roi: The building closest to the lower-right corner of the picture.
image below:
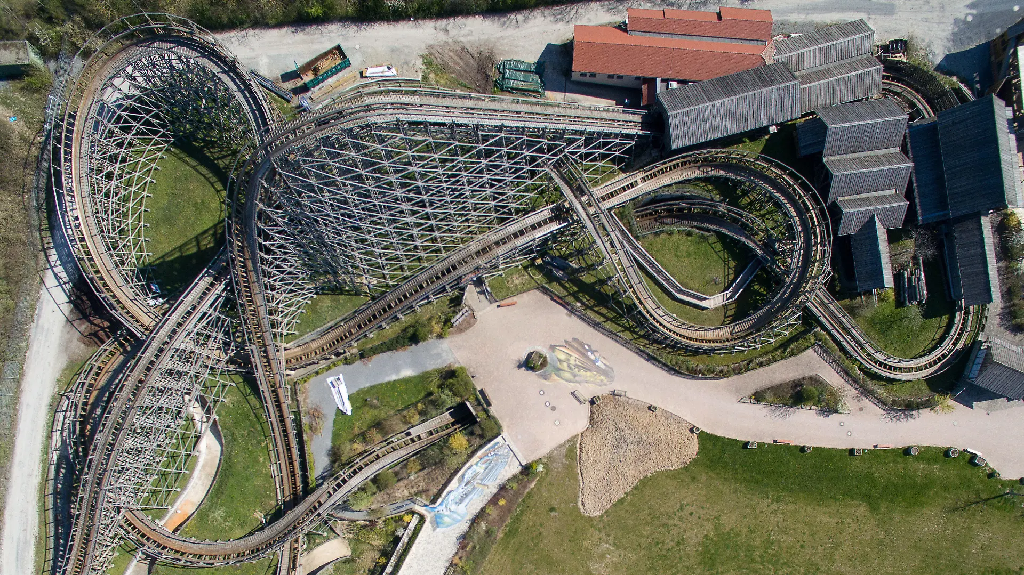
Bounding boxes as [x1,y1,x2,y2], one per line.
[951,336,1024,408]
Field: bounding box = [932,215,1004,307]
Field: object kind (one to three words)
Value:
barn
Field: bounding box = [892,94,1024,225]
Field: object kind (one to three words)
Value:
barn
